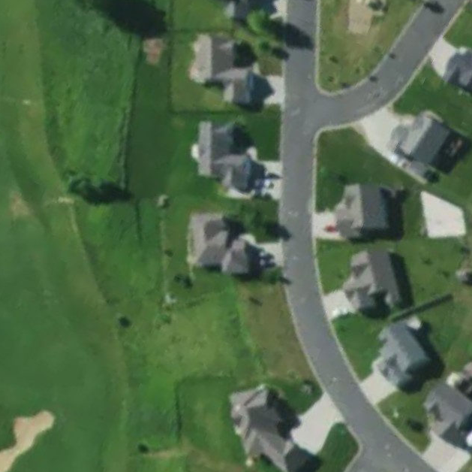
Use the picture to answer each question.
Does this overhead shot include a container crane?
No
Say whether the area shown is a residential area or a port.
residential area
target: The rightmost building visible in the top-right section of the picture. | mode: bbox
[440,48,472,101]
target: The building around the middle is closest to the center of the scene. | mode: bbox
[190,215,252,274]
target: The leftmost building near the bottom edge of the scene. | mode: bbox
[232,383,298,471]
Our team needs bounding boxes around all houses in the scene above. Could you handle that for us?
[190,215,252,274]
[383,112,452,180]
[197,33,256,103]
[232,383,298,471]
[377,316,433,391]
[440,48,472,101]
[333,182,390,238]
[198,121,254,191]
[422,377,472,452]
[344,248,400,313]
[227,0,261,21]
